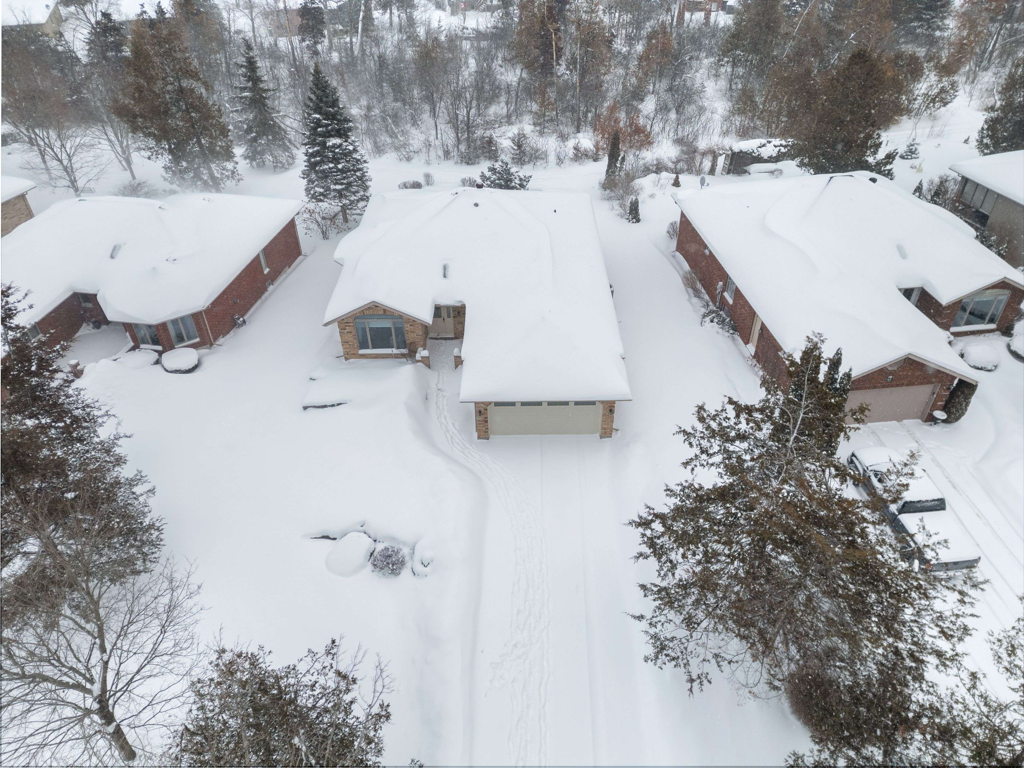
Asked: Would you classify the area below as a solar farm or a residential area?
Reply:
residential area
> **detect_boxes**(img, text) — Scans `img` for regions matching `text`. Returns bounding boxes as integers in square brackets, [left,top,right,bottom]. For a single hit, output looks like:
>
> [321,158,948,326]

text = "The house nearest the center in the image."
[323,176,634,441]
